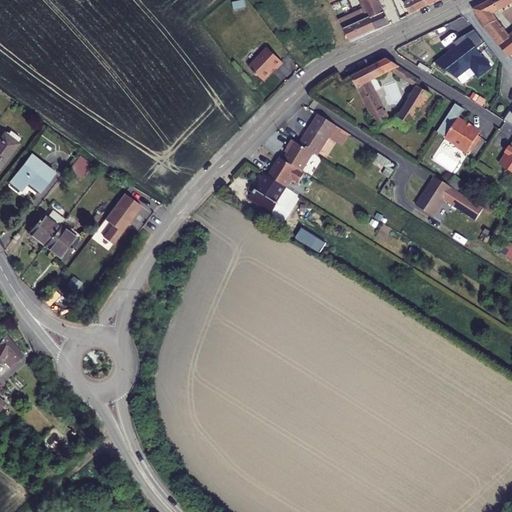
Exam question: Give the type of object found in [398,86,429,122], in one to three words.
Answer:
barn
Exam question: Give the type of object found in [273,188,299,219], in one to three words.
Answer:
building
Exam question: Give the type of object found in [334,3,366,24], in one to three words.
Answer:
shed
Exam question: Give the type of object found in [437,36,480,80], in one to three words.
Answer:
house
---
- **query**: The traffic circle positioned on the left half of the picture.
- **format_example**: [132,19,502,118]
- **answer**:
[56,322,140,407]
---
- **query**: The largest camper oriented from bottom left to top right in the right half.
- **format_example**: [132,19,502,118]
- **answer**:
[442,33,458,46]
